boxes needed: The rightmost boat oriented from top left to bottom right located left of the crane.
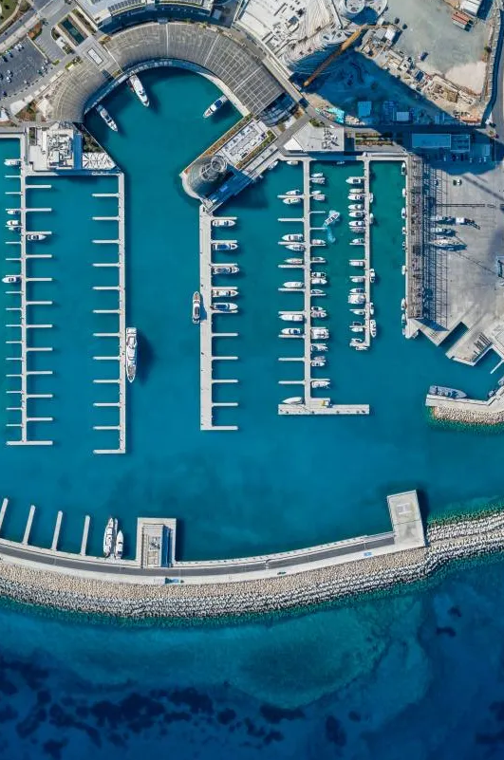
[125,73,148,105]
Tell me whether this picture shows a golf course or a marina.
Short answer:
marina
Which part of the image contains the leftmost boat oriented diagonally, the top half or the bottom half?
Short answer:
top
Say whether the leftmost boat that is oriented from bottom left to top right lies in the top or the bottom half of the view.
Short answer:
top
